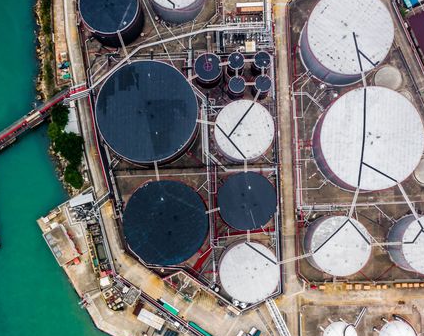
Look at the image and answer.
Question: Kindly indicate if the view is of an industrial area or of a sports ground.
industrial area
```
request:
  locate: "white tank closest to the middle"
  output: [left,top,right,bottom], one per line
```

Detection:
[205,92,282,172]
